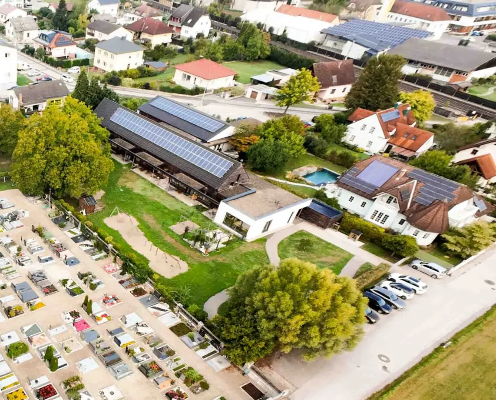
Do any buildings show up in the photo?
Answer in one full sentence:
Yes, the image includes a building.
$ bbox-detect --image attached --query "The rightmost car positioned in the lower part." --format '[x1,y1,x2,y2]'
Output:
[411,260,450,278]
